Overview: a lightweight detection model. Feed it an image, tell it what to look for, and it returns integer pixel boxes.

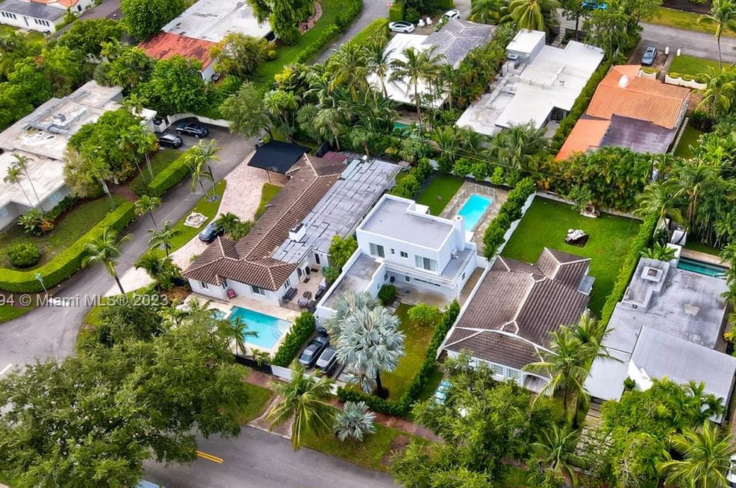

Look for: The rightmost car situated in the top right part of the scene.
[640,43,657,65]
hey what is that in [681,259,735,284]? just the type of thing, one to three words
swimming pool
